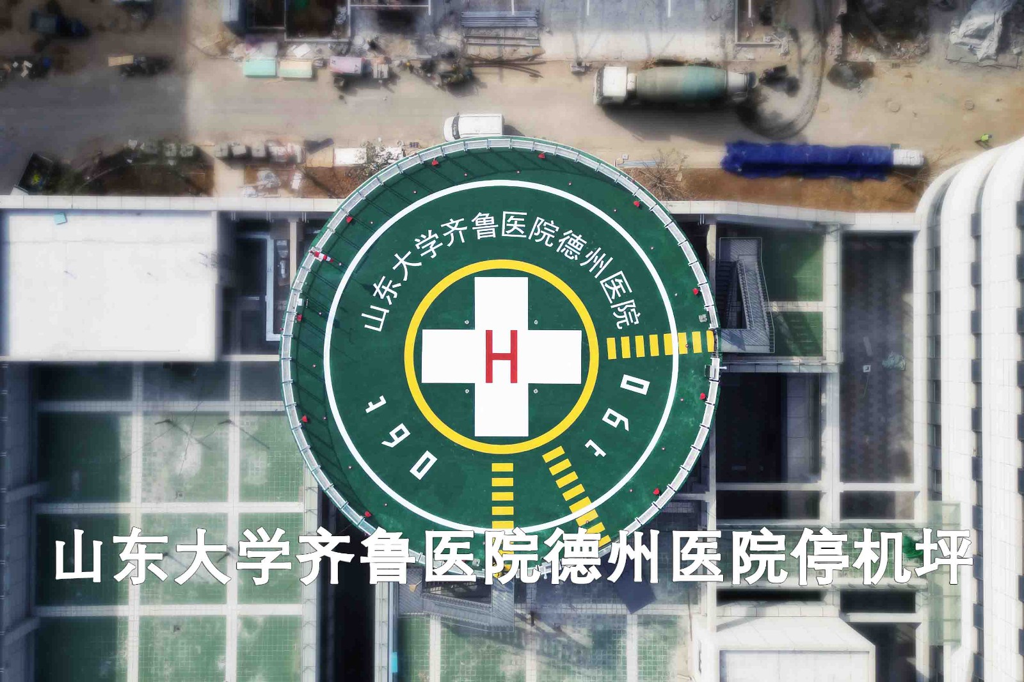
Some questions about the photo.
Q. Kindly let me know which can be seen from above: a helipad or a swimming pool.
helipad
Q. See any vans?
Yes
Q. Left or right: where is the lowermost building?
right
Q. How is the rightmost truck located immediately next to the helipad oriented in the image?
from left to right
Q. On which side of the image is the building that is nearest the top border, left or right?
left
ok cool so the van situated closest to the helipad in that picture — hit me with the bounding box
[444,111,504,141]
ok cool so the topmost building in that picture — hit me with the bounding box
[222,0,254,35]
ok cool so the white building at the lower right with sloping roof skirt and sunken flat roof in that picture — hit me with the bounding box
[673,593,875,682]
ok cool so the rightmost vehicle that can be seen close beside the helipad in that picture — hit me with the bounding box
[593,64,752,114]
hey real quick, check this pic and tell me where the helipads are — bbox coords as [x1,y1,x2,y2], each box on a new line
[279,135,724,579]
